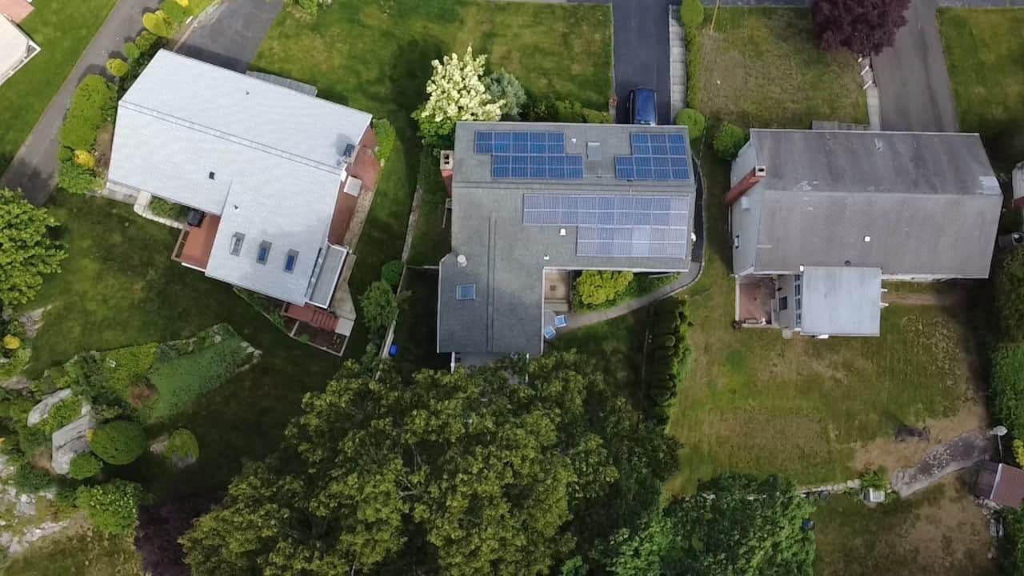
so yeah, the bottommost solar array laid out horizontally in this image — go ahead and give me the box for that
[523,193,690,256]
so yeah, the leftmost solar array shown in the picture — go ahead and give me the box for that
[474,130,584,178]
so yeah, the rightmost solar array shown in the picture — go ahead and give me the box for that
[614,130,690,178]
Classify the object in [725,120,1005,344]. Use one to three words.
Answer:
house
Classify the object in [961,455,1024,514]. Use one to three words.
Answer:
shed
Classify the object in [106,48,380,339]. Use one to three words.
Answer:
house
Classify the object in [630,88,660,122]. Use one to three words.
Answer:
car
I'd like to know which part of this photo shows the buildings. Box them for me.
[725,120,1005,344]
[0,0,49,96]
[961,455,1024,514]
[106,48,380,339]
[436,122,697,386]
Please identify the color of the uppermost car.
blue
